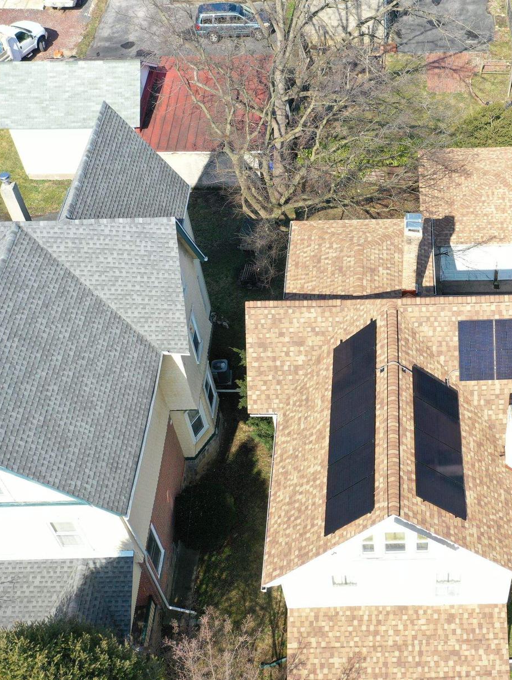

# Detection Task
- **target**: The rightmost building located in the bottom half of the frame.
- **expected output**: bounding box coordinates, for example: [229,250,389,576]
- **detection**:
[245,208,512,680]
